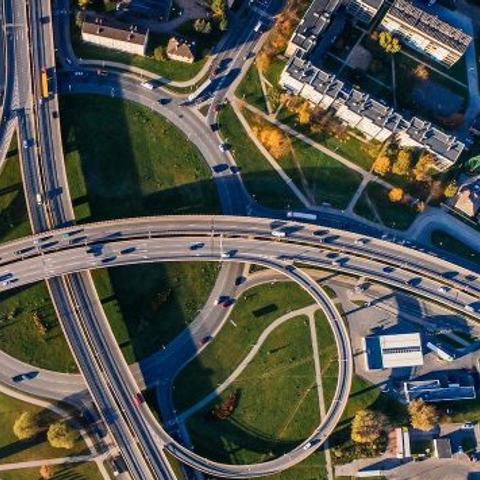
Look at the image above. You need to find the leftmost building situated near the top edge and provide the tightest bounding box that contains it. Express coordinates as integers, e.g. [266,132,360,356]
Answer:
[82,11,151,50]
